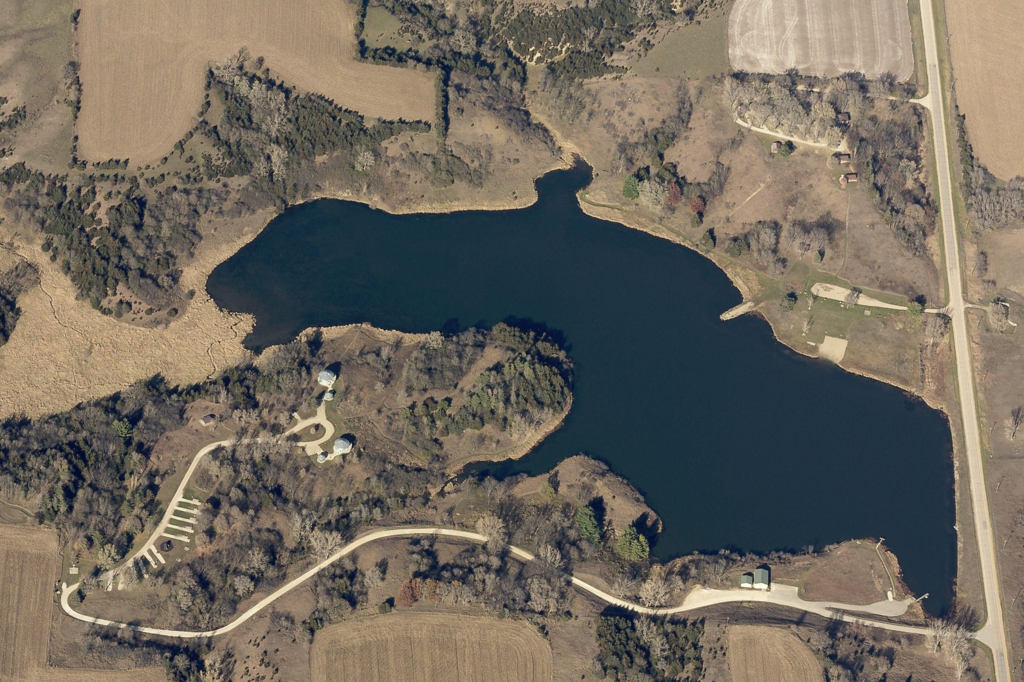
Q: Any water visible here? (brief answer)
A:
Yes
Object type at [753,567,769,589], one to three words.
shed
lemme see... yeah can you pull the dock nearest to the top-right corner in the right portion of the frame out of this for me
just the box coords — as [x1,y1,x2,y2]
[720,301,757,320]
